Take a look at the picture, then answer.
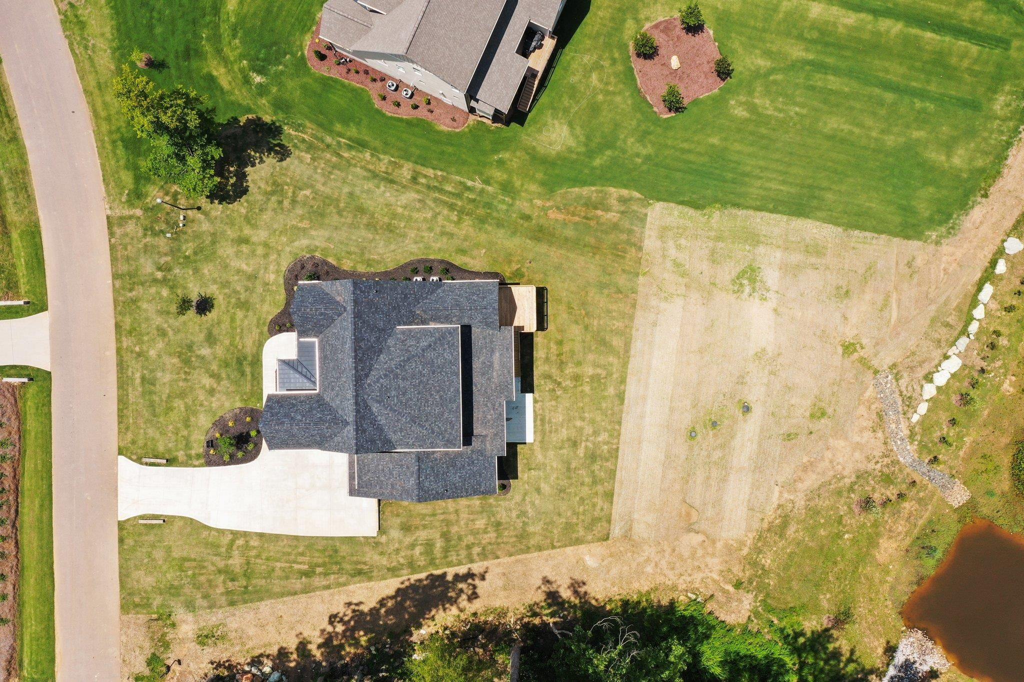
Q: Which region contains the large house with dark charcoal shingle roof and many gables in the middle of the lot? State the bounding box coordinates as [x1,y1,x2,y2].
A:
[258,279,516,502]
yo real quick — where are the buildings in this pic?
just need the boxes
[258,279,516,502]
[319,0,567,122]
